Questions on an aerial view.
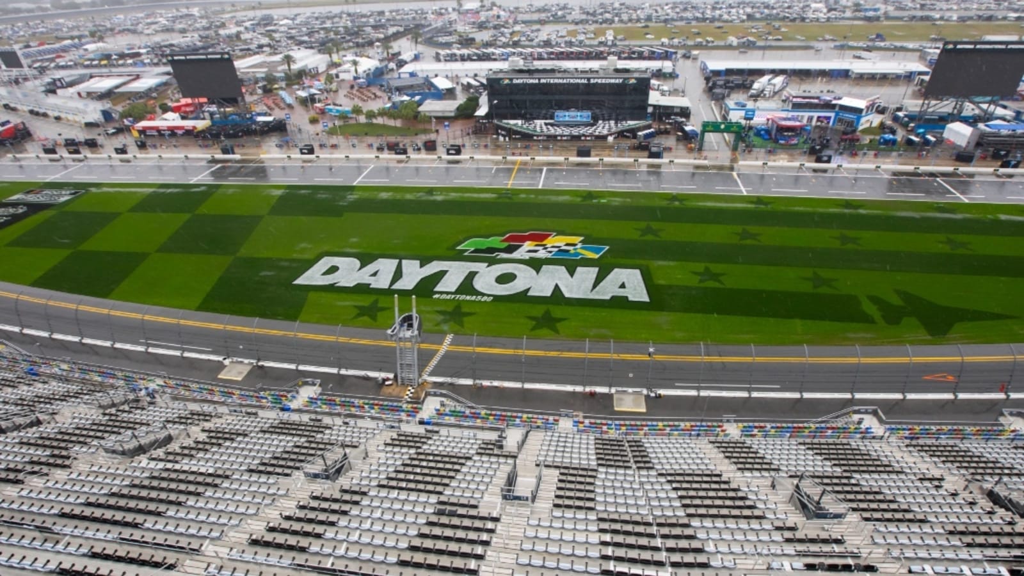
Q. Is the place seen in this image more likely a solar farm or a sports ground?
sports ground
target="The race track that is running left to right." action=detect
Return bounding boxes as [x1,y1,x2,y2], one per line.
[0,286,1024,393]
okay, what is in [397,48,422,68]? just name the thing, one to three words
vehicle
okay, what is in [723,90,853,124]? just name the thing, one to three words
building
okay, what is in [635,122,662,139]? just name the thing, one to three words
vehicle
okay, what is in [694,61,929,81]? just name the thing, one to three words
building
